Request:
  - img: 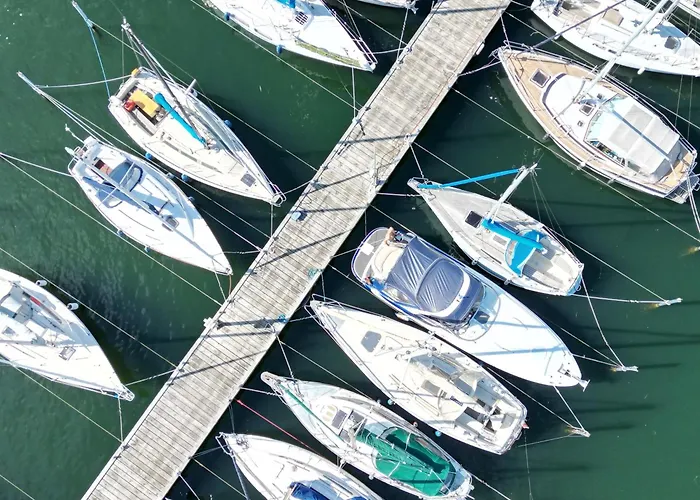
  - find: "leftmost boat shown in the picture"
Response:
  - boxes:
[0,262,129,400]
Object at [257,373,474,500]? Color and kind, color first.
white boat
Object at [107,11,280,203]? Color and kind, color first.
white boat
